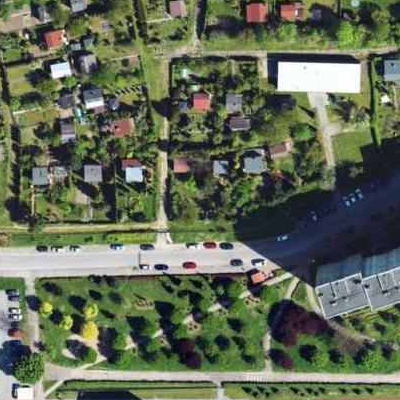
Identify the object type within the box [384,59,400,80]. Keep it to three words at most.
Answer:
shed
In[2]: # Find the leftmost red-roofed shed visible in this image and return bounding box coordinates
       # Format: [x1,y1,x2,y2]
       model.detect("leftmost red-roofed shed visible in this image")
[44,29,66,49]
